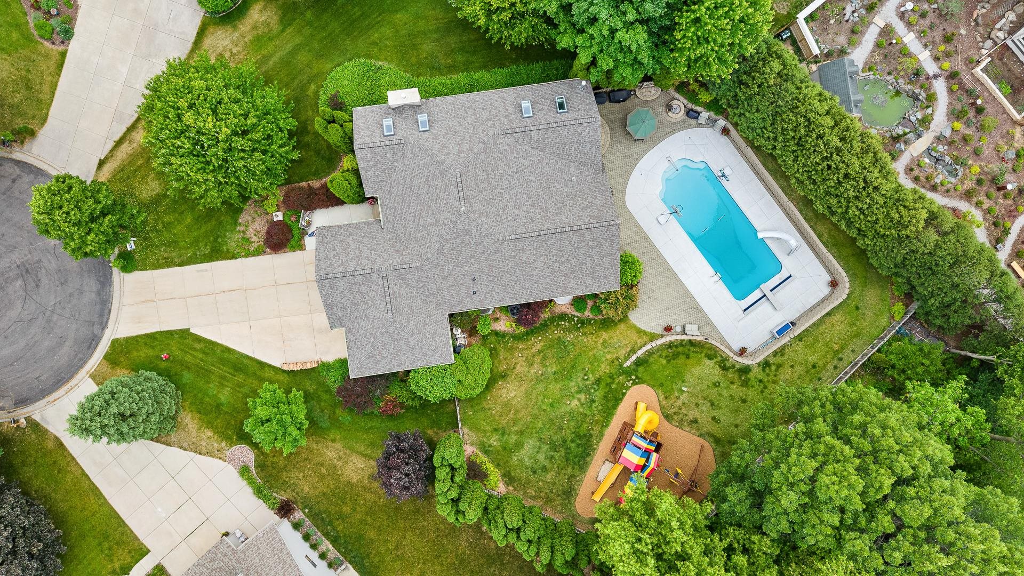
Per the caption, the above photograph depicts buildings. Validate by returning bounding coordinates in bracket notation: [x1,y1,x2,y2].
[314,77,621,378]
[816,58,866,113]
[177,514,342,576]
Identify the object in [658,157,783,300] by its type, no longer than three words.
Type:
swimming pool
